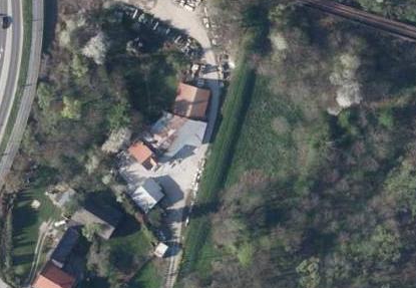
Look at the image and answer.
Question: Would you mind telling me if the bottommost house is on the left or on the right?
left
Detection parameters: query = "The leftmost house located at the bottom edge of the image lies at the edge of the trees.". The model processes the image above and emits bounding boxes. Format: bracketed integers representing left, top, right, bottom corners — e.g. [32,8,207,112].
[32,260,77,288]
